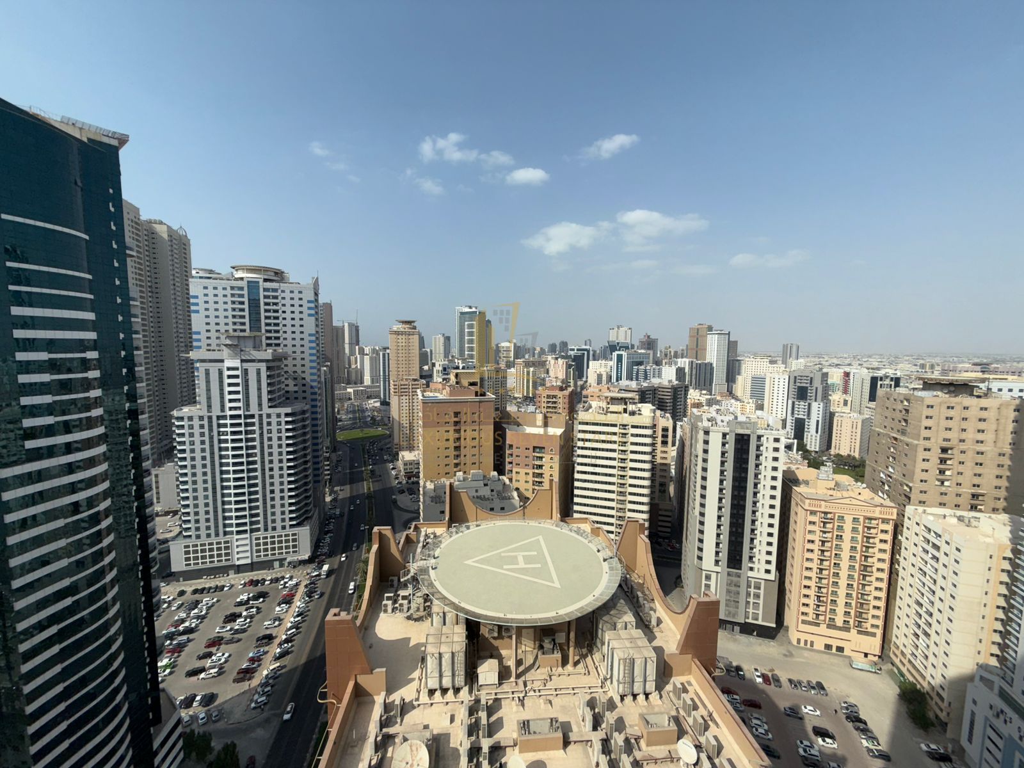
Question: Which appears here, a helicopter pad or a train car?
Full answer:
There is a helicopter pad in the scene.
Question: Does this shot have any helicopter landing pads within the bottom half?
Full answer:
Yes, the scene does show a helicopter landing pad within the bottom half.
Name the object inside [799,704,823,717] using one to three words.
vehicle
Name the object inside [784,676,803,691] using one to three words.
car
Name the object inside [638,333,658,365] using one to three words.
building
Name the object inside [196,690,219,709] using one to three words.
car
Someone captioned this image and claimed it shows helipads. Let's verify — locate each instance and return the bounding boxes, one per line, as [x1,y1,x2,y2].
[418,510,625,687]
